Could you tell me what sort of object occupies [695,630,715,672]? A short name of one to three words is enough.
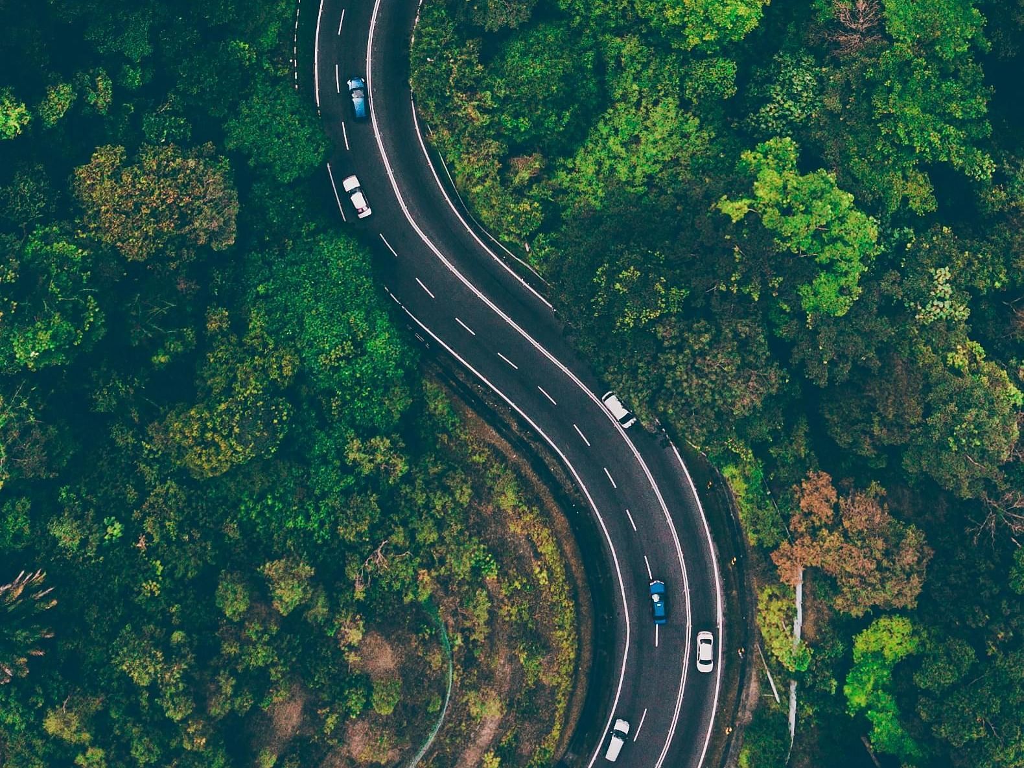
car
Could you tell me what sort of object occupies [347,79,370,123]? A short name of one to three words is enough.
car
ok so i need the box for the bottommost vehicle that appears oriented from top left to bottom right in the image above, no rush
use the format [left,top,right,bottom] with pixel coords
[600,389,636,430]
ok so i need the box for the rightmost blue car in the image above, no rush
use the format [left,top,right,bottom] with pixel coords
[649,580,668,624]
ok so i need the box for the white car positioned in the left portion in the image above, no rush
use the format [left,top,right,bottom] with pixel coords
[343,174,374,220]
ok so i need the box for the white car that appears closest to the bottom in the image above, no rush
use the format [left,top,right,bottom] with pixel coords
[603,717,630,763]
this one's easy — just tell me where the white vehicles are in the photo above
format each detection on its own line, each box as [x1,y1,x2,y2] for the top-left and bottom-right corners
[603,717,630,763]
[343,174,374,220]
[695,630,715,672]
[600,389,636,430]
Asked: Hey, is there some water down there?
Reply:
No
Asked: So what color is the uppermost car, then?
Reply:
blue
